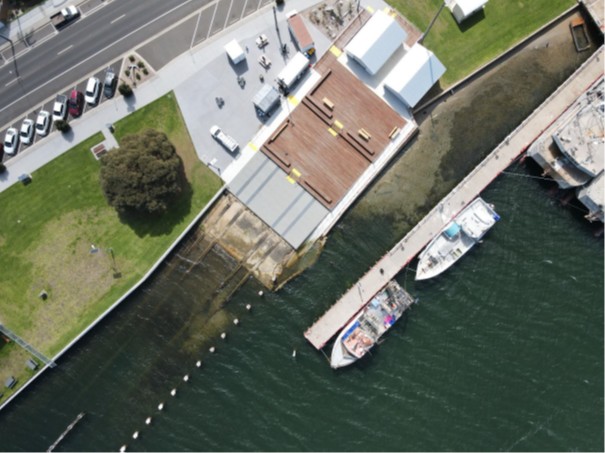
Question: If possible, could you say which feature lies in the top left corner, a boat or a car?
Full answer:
The one visible in the top left corner is a car.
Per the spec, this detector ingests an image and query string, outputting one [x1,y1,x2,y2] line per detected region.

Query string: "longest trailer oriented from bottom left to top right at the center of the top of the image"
[277,51,310,93]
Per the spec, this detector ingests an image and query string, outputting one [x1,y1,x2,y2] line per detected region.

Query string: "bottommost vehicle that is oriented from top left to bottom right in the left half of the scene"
[210,125,239,155]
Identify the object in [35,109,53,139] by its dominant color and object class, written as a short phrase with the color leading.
white car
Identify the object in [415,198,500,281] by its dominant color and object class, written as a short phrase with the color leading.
white boat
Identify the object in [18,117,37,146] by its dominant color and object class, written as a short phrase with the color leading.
white car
